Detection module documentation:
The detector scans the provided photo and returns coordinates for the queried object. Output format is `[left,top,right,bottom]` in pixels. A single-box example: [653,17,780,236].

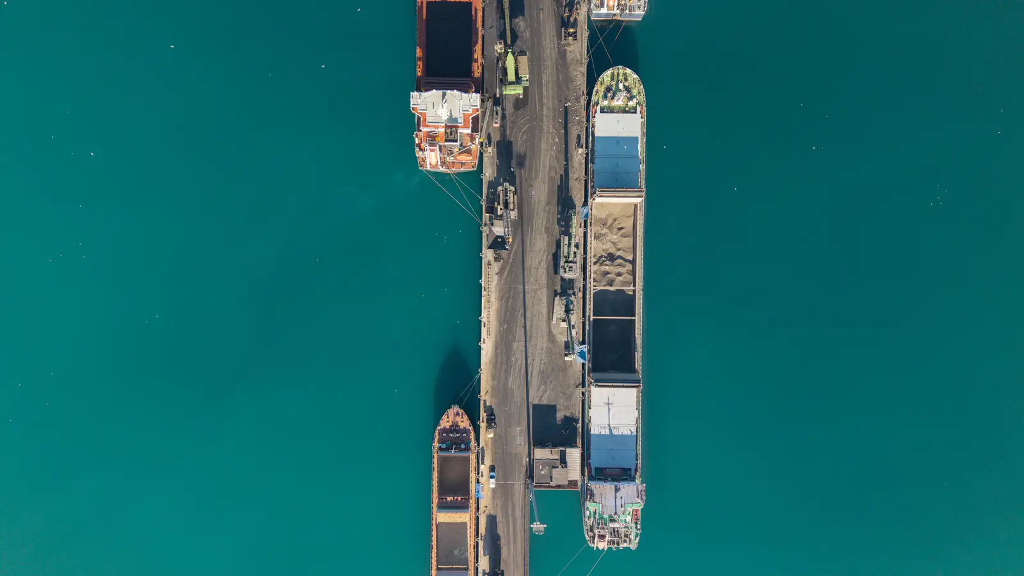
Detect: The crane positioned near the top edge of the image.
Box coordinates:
[495,0,529,98]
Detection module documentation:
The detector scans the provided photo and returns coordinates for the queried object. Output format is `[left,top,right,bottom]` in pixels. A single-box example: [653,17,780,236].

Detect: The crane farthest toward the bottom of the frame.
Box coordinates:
[552,289,577,353]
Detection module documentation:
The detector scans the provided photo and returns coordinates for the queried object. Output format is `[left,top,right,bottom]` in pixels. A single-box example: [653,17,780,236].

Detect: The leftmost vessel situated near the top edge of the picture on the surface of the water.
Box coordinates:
[411,0,482,174]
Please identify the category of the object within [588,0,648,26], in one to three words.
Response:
ship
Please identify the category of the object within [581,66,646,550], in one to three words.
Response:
ship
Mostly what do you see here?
water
